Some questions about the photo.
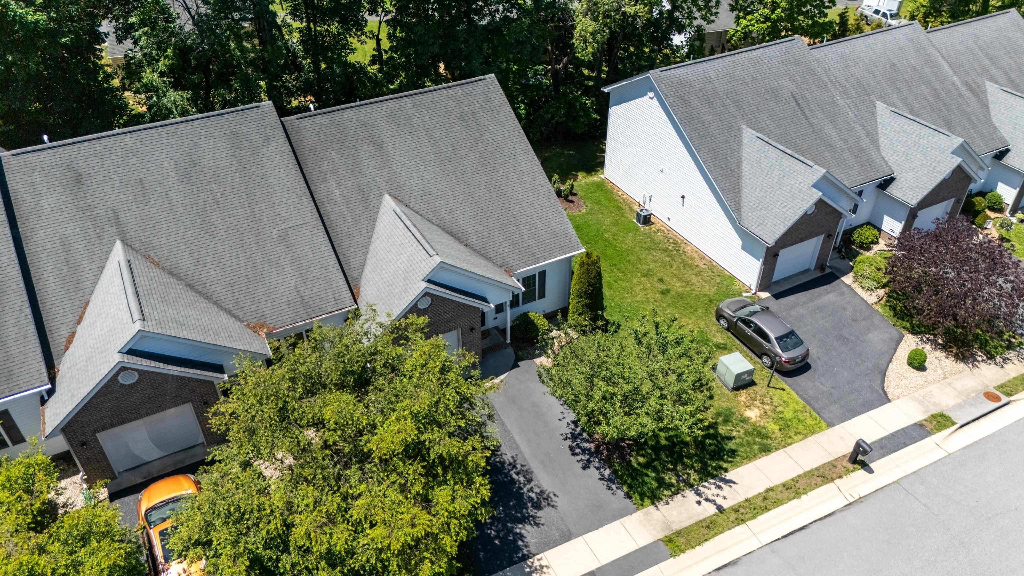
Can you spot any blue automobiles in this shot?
No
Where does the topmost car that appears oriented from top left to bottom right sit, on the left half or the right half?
right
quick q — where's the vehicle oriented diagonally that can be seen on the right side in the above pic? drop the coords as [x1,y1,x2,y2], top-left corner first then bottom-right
[718,300,817,384]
